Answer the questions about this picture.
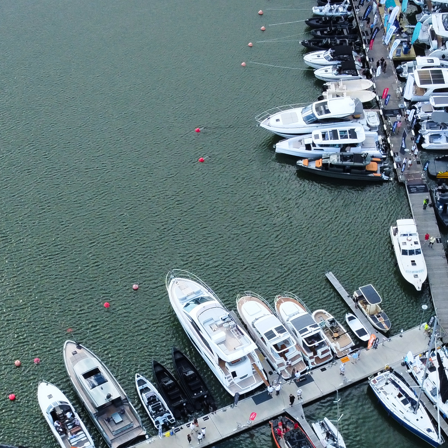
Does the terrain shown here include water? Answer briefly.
Yes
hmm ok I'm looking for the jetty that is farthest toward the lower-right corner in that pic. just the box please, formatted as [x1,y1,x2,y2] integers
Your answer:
[404,373,448,440]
